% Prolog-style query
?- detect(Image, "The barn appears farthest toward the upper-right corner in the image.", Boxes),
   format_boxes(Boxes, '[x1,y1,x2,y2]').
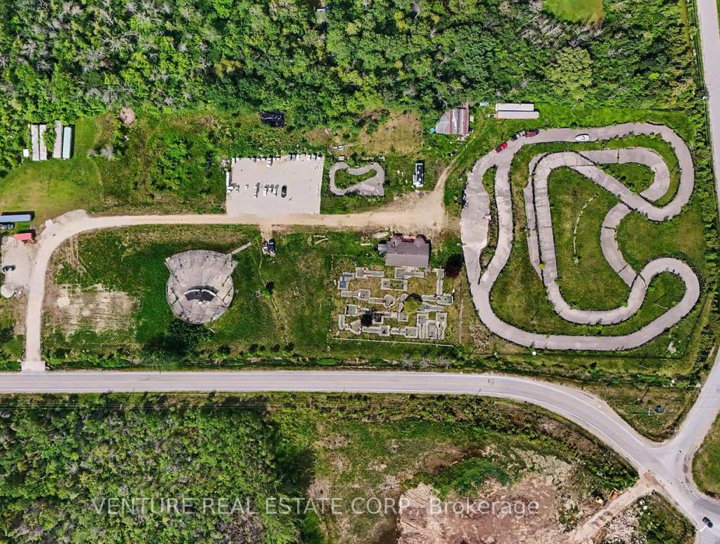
[436,108,468,135]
